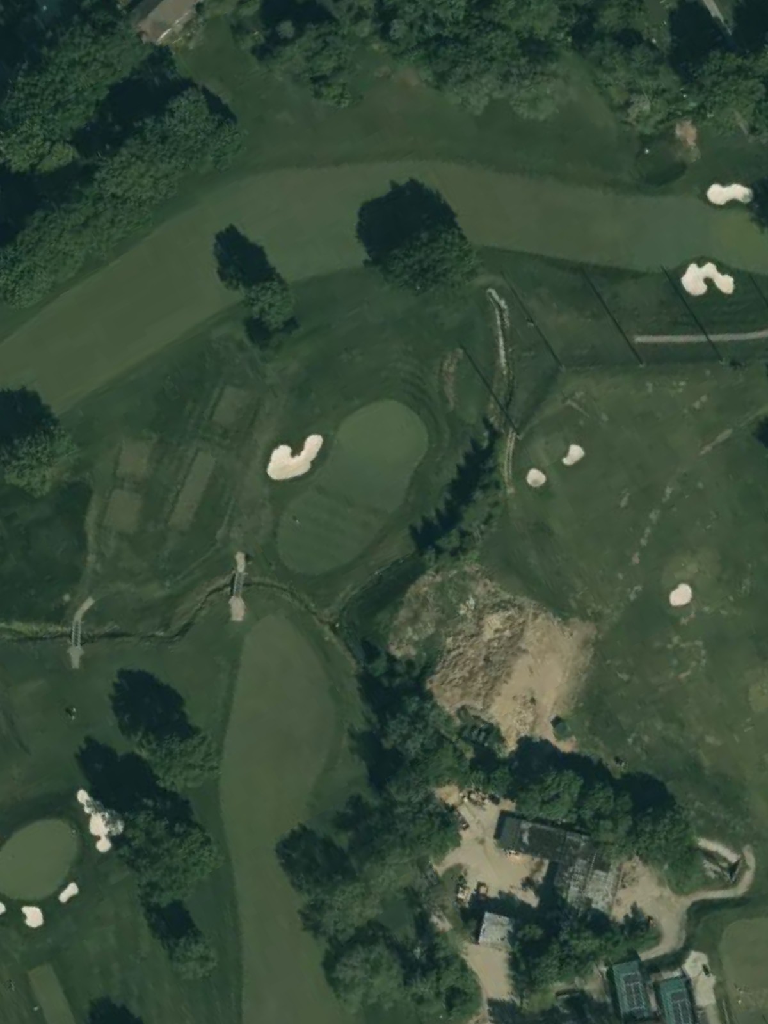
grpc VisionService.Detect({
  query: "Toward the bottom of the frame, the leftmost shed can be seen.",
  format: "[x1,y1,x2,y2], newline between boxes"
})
[478,911,515,950]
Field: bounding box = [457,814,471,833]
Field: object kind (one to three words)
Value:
vehicle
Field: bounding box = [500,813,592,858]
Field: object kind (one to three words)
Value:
shed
